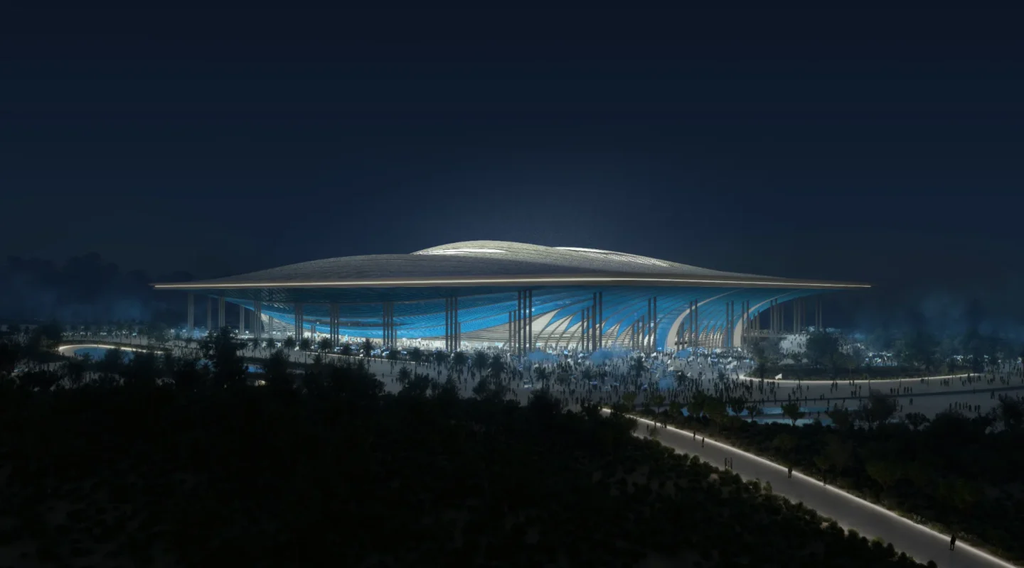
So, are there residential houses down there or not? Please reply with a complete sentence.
No, the scene contains no residential house.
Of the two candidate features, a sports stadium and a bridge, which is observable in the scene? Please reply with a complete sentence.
It is a sports stadium that can be seen here.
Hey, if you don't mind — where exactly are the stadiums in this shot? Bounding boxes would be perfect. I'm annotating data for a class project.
[151,240,873,352]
